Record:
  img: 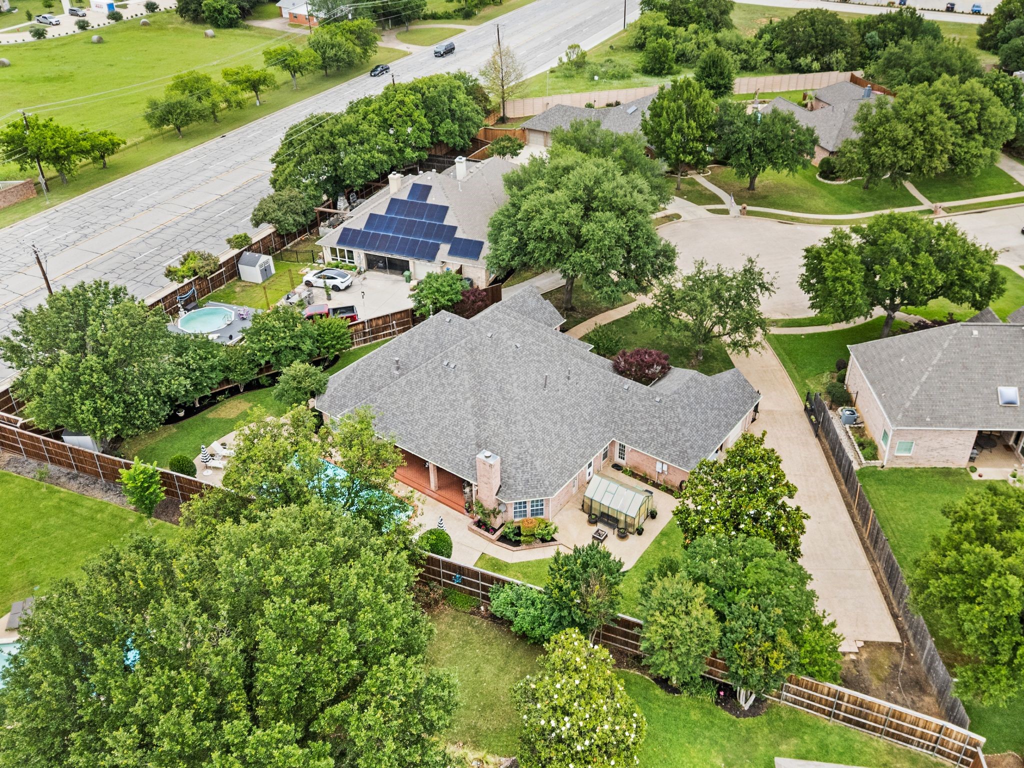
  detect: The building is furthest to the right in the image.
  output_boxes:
[849,310,1024,457]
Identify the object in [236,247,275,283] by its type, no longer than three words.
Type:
shed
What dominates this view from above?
trees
